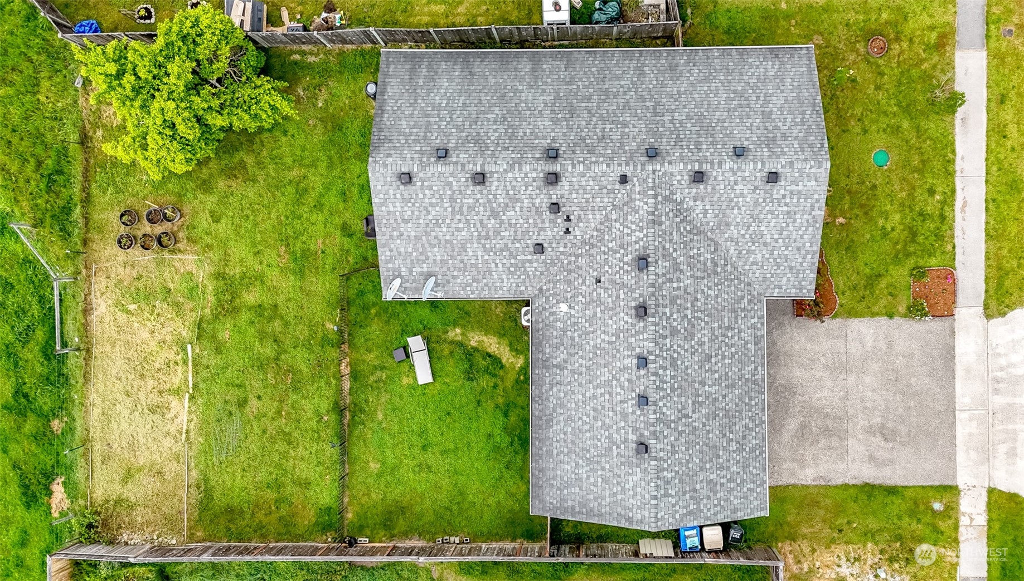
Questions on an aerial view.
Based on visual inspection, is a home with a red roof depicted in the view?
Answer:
No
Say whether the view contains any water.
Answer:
No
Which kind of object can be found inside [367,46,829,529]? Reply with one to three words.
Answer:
house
